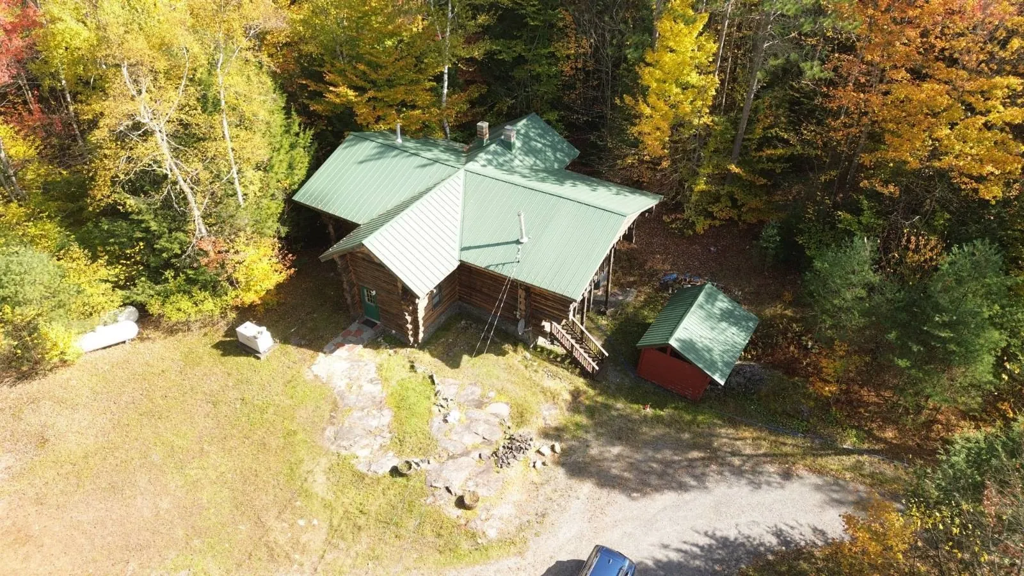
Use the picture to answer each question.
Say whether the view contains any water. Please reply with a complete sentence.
No, no water is visible.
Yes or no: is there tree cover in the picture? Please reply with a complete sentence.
Yes, tree cover can be seen from above here.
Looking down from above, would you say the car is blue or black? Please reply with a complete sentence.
The color of the car is blue.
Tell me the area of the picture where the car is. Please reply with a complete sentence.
The car appears toward the bottom of the photo.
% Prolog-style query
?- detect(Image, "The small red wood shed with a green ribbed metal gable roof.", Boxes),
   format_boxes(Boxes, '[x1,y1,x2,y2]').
[631,282,754,402]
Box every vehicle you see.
[578,543,636,576]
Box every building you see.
[289,115,662,357]
[631,282,754,402]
